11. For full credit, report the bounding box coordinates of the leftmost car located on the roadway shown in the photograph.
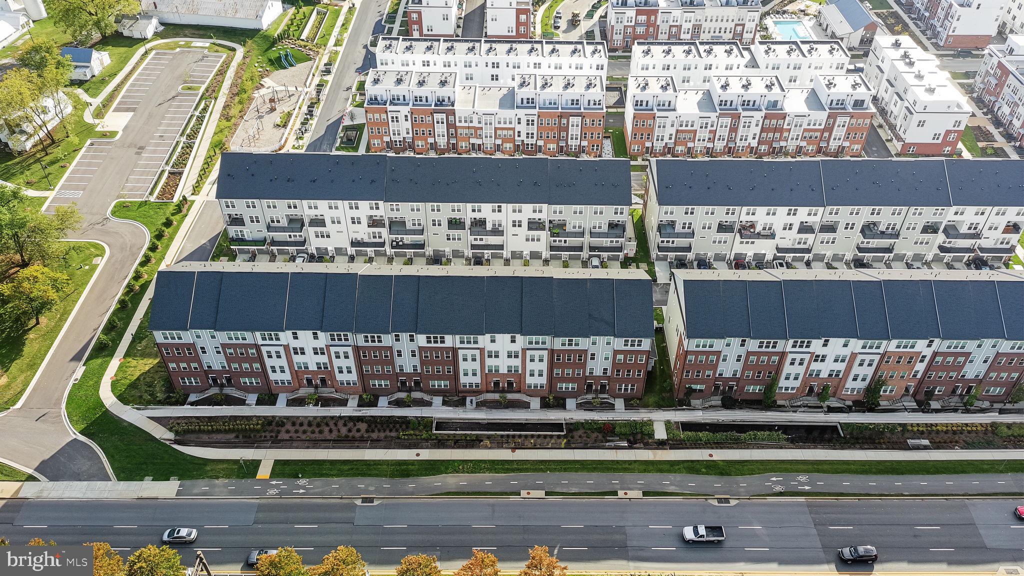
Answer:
[160,528,198,545]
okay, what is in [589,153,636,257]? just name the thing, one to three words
house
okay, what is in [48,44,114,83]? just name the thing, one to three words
house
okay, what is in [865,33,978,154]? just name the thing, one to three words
building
